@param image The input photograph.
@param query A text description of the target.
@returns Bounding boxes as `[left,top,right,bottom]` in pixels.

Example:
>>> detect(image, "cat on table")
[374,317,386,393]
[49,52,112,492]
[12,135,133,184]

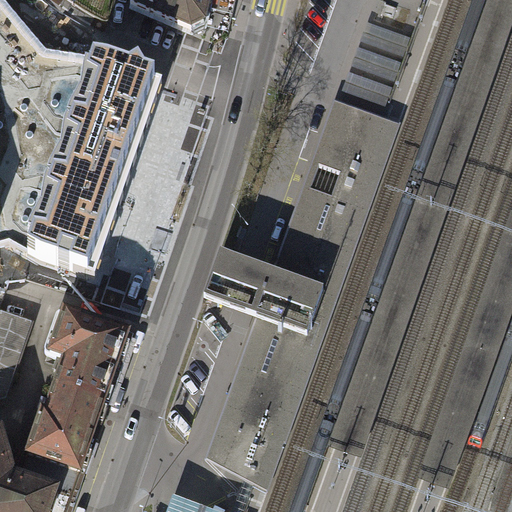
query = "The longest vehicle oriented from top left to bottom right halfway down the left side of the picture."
[58,270,103,314]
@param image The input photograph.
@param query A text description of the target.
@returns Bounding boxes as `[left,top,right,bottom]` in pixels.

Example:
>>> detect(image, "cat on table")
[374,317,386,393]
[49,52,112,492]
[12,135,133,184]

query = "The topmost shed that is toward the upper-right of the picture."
[360,24,410,58]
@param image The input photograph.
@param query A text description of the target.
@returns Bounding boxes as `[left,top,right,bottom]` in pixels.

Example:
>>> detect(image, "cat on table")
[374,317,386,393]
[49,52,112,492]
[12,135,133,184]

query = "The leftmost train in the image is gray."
[287,0,488,512]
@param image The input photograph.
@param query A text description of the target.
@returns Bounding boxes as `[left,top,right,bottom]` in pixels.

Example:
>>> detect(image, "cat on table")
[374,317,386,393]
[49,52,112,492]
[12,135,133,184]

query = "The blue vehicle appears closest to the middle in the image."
[270,218,284,240]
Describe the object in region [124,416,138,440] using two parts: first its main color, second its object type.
white car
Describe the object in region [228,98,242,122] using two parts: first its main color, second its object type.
black car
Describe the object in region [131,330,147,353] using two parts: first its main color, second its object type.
white vehicle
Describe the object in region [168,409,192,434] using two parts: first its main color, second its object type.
white vehicle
